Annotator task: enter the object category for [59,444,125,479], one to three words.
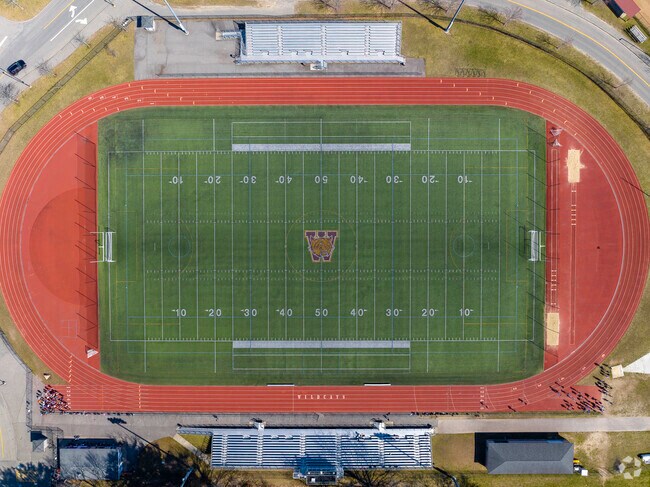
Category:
building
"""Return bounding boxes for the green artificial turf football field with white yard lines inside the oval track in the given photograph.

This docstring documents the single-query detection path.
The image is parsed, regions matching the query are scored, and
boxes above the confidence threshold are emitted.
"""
[98,105,546,386]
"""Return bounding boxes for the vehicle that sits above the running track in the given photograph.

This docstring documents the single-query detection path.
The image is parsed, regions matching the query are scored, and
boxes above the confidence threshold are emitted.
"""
[4,58,25,74]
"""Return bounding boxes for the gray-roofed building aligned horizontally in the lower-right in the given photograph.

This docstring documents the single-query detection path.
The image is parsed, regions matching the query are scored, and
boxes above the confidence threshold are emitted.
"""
[486,438,574,474]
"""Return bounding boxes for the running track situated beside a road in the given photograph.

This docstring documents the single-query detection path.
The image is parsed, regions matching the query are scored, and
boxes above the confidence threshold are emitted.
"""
[0,79,649,413]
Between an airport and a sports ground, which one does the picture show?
sports ground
